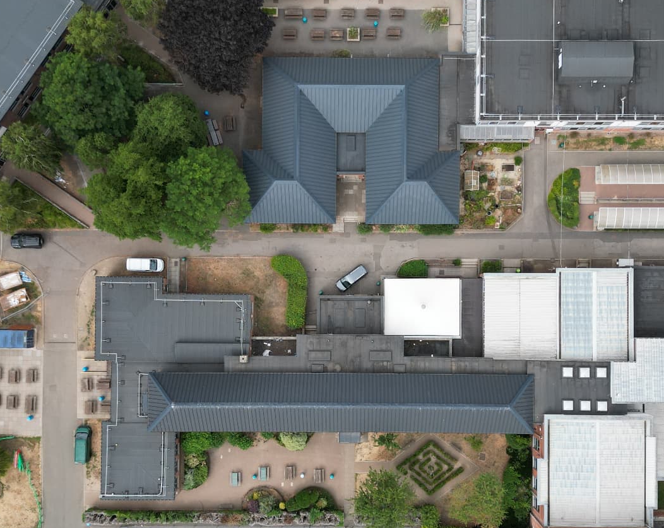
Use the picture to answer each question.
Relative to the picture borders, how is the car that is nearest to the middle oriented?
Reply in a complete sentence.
The car that is nearest to the middle is laid out at an angle.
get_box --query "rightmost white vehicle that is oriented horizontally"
[125,256,165,273]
